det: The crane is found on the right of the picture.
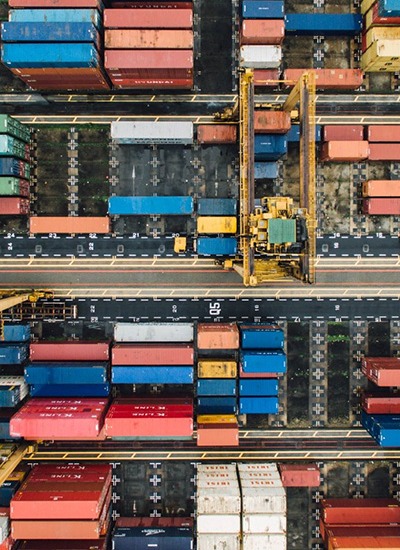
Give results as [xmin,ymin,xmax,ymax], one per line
[212,70,318,285]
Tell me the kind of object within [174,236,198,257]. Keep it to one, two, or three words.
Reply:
vehicle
